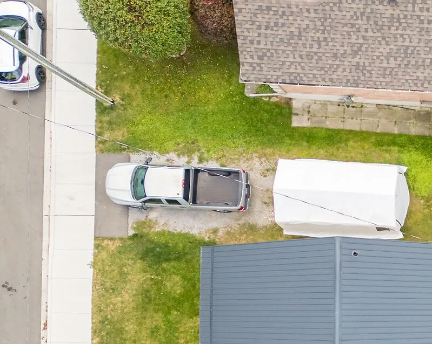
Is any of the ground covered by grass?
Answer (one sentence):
Yes, grass shows up in the scene.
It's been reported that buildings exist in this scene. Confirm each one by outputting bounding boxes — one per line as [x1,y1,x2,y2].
[198,235,432,344]
[237,0,432,104]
